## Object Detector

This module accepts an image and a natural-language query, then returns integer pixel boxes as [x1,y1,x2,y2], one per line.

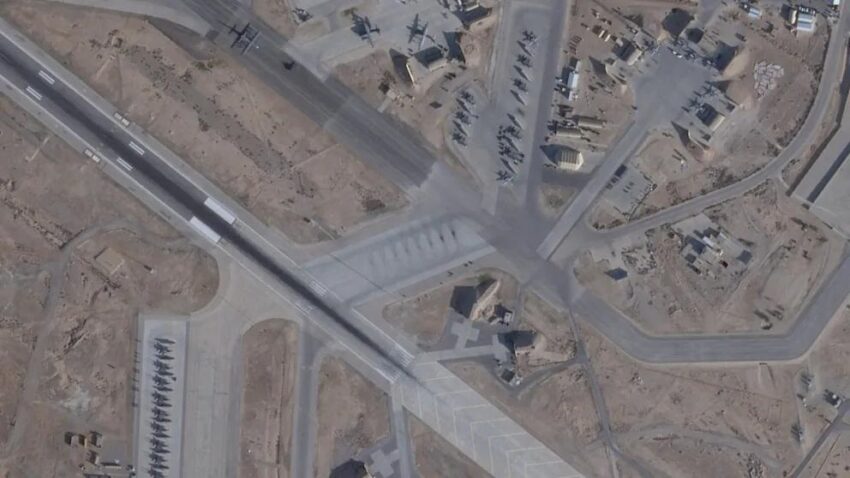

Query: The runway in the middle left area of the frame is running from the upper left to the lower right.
[0,30,413,382]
